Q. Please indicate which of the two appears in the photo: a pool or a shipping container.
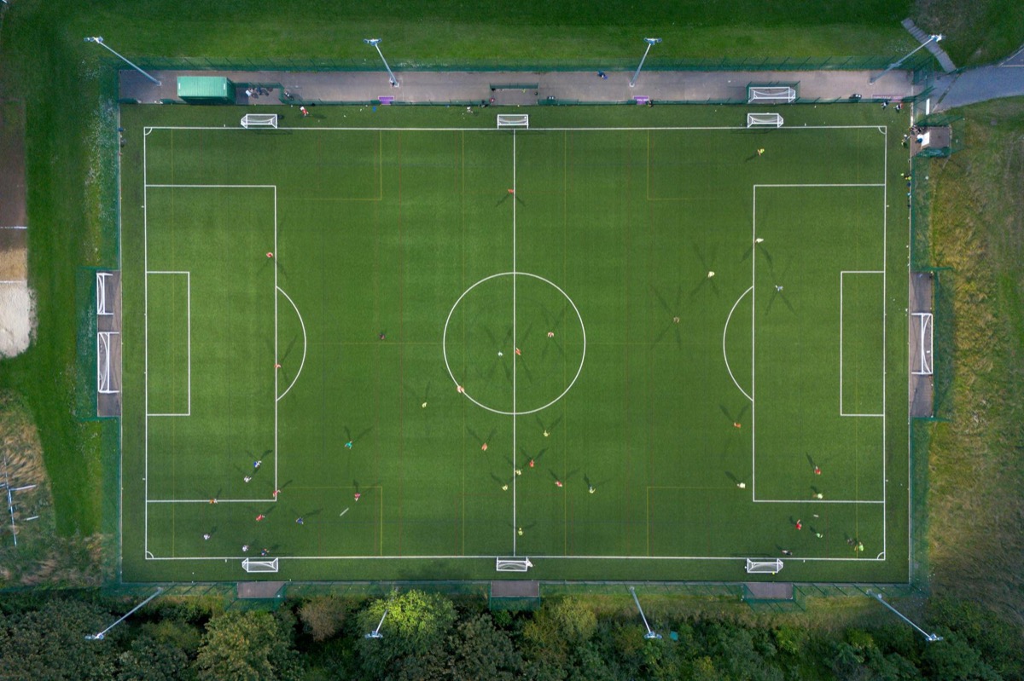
shipping container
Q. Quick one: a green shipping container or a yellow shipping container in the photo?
green shipping container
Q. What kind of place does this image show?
sports ground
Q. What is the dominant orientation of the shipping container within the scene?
from left to right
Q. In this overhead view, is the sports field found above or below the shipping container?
below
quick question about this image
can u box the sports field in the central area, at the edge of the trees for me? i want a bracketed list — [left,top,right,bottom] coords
[145,129,885,560]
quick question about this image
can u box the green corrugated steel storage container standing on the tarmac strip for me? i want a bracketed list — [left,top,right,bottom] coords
[178,76,234,102]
